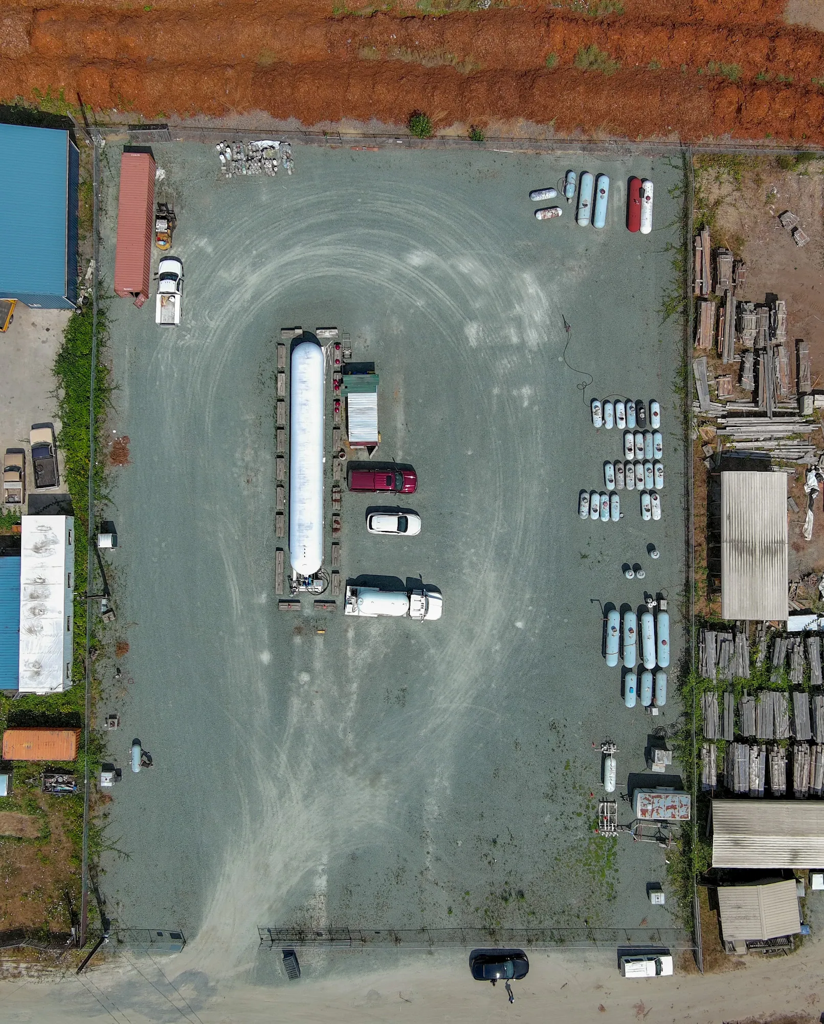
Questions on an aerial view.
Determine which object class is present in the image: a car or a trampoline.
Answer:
car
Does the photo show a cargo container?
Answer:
Yes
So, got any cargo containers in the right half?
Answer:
No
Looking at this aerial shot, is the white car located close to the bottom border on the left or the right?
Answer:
right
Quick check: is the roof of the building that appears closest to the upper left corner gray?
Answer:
No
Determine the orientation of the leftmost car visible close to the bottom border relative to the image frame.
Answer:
from left to right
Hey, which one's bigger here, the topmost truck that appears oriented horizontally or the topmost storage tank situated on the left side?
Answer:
the storage tank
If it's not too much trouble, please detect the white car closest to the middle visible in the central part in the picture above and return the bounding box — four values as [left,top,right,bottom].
[367,510,422,538]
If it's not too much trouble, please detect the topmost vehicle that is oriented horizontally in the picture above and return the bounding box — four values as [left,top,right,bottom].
[343,460,417,496]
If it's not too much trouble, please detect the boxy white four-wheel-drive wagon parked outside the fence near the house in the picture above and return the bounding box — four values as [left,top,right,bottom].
[619,952,672,981]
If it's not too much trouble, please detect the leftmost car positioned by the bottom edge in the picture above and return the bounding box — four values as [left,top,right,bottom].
[470,952,529,983]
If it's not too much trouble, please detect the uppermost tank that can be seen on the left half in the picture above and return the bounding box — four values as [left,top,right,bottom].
[291,342,329,598]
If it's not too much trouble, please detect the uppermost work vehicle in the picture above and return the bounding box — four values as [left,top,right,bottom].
[155,207,173,252]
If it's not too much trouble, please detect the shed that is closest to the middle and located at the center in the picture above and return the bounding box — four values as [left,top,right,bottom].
[341,374,378,451]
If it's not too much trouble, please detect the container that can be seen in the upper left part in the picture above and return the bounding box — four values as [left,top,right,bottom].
[114,152,156,305]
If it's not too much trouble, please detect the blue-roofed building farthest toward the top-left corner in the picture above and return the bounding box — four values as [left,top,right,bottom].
[0,121,80,308]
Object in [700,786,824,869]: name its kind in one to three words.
shed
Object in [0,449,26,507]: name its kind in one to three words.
truck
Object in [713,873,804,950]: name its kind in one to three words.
house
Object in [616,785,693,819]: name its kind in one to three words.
trailer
